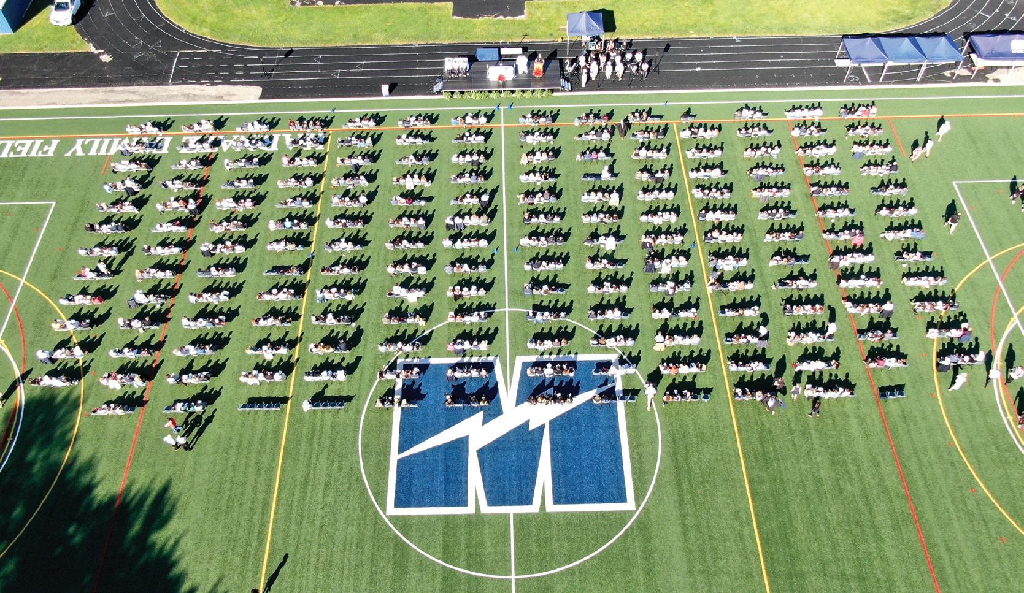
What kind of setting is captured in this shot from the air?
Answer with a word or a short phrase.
sports ground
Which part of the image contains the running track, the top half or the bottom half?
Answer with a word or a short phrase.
top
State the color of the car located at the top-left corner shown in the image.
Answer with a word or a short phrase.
white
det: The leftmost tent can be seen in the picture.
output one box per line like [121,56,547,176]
[565,13,605,55]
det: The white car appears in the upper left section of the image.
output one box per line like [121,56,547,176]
[50,0,83,24]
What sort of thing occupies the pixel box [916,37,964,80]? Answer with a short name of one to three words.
tent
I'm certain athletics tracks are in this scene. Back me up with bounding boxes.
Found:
[0,0,1024,105]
